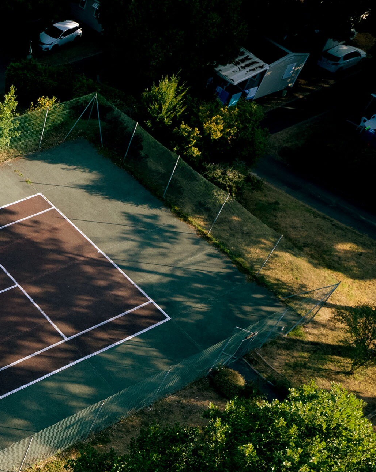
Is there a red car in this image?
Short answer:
No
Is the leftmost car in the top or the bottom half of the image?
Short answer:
top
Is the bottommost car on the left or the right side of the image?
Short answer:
right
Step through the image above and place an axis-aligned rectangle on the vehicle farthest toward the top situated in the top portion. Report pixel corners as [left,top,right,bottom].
[32,19,92,56]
